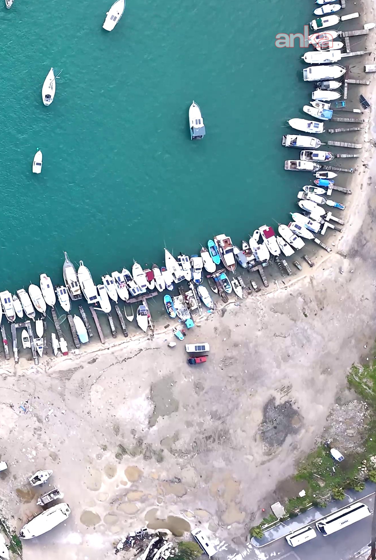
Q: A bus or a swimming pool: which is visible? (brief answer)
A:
bus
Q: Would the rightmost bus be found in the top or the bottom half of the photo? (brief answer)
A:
bottom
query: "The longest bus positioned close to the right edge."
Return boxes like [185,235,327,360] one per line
[311,501,369,535]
